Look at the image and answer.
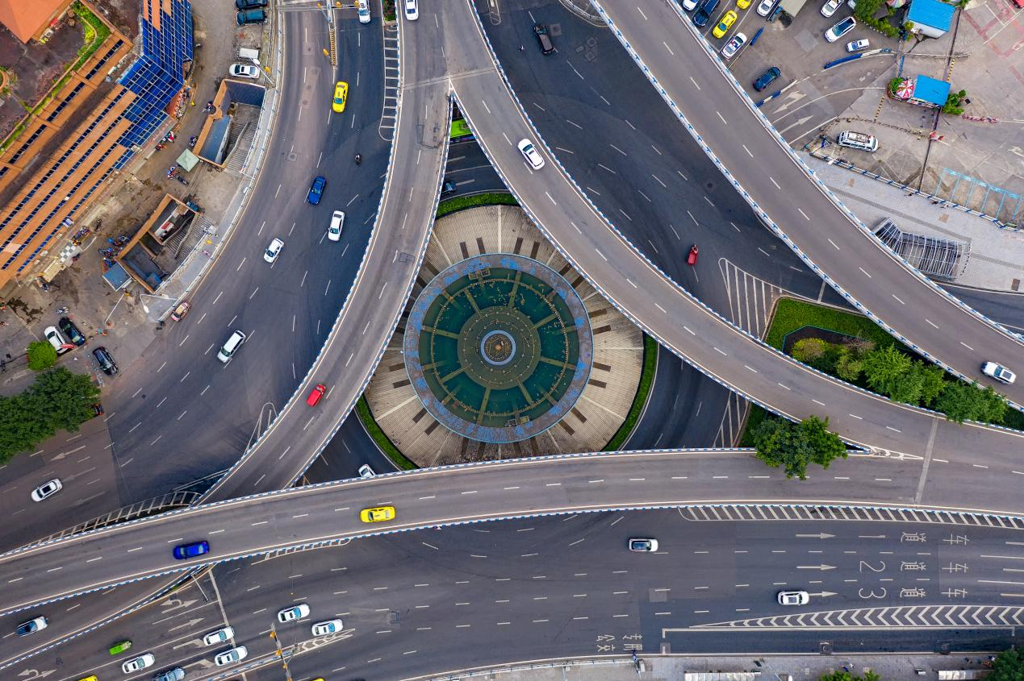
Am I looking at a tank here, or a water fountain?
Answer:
water fountain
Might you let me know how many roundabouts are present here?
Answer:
one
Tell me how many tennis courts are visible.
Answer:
none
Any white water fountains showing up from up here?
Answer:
No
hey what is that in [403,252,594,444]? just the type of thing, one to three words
fountain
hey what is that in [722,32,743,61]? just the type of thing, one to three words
car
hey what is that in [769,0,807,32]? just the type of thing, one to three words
truck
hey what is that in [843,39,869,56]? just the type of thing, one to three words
vehicle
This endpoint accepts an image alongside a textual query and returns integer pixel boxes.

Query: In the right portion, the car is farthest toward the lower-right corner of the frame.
[776,589,808,604]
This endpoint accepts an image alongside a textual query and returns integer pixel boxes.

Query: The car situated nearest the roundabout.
[439,180,465,197]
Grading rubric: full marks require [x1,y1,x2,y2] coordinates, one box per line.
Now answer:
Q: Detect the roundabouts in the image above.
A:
[351,188,659,472]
